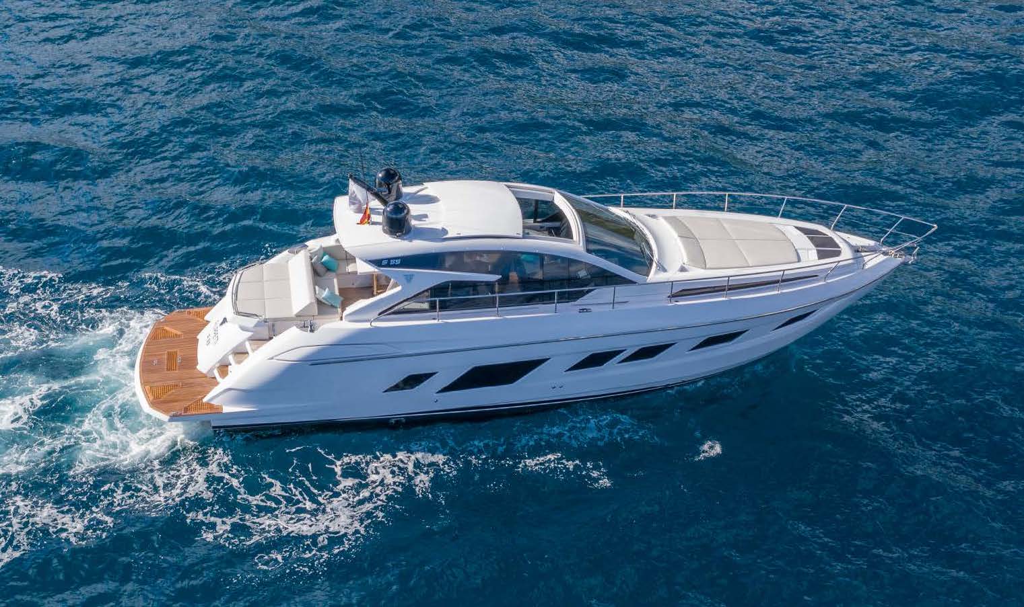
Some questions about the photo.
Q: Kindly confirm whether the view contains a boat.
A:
Yes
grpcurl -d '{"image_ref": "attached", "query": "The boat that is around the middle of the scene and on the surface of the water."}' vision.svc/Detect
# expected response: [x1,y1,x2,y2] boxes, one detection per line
[135,118,940,428]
